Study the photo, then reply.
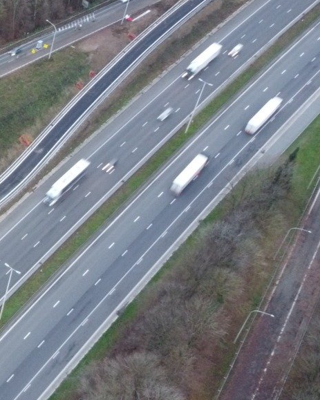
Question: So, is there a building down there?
No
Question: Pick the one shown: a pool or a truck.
truck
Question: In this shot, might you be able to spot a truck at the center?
Yes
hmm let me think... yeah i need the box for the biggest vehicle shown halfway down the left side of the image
[47,160,89,203]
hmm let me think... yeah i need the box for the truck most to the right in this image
[246,99,281,134]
